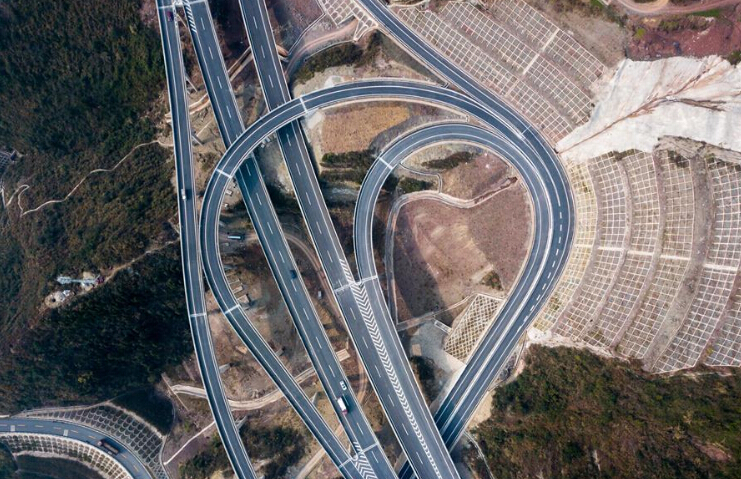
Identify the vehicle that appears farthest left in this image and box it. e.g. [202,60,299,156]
[97,441,116,456]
